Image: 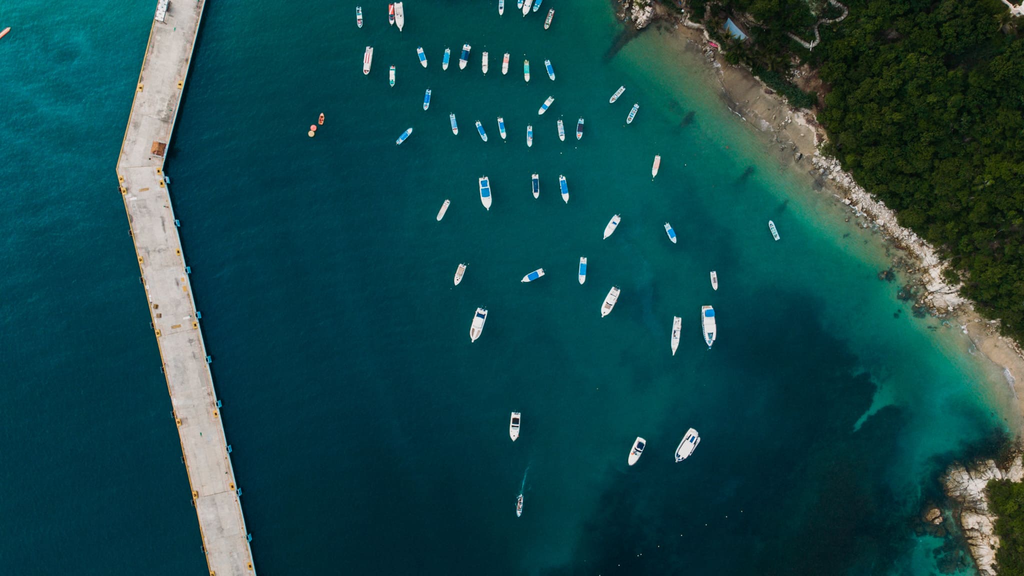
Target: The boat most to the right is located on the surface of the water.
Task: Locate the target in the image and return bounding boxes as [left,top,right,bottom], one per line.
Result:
[768,220,780,240]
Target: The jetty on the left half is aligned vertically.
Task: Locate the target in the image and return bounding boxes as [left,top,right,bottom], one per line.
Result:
[116,0,258,576]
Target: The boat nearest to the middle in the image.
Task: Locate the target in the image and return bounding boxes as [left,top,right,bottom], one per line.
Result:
[521,268,547,282]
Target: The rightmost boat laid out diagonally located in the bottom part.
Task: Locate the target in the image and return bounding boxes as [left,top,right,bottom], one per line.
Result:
[675,428,699,464]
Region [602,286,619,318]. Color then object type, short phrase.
white boat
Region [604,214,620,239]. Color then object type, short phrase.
white boat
